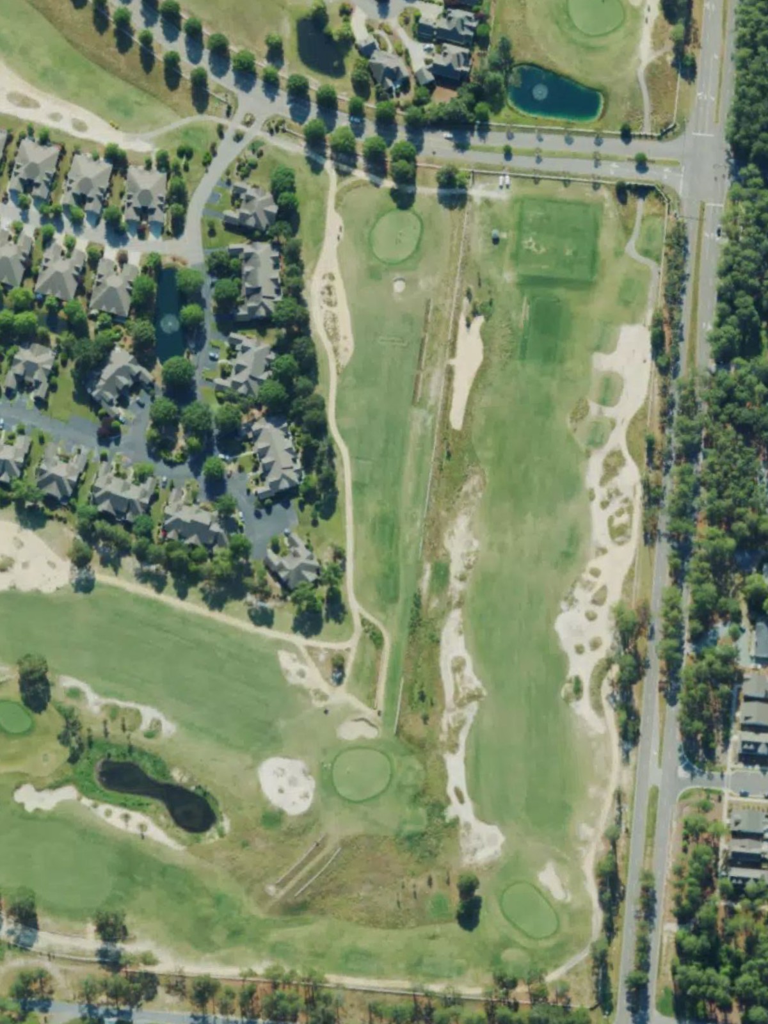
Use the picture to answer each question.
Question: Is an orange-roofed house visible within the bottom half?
No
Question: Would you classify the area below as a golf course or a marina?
golf course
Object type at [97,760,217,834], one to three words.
pond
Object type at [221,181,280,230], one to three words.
house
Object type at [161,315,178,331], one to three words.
fountain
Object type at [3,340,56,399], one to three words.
house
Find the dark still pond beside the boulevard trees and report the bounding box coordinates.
[295,15,352,79]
